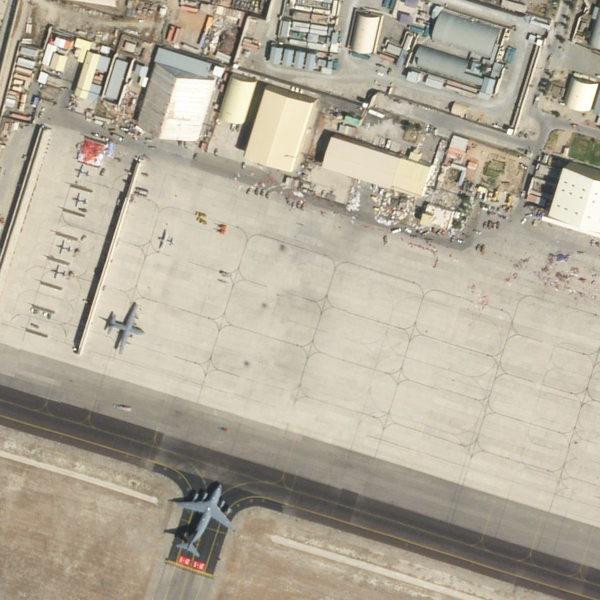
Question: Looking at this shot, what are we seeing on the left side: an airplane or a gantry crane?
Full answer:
What appears on the left side is an airplane.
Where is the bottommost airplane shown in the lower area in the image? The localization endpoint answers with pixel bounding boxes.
[173,487,234,556]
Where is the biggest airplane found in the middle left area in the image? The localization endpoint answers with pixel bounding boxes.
[106,305,144,353]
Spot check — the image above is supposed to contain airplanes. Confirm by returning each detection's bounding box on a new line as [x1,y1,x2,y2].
[74,194,89,208]
[57,241,73,255]
[54,266,68,279]
[160,230,174,250]
[106,305,144,353]
[78,166,92,180]
[173,487,234,556]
